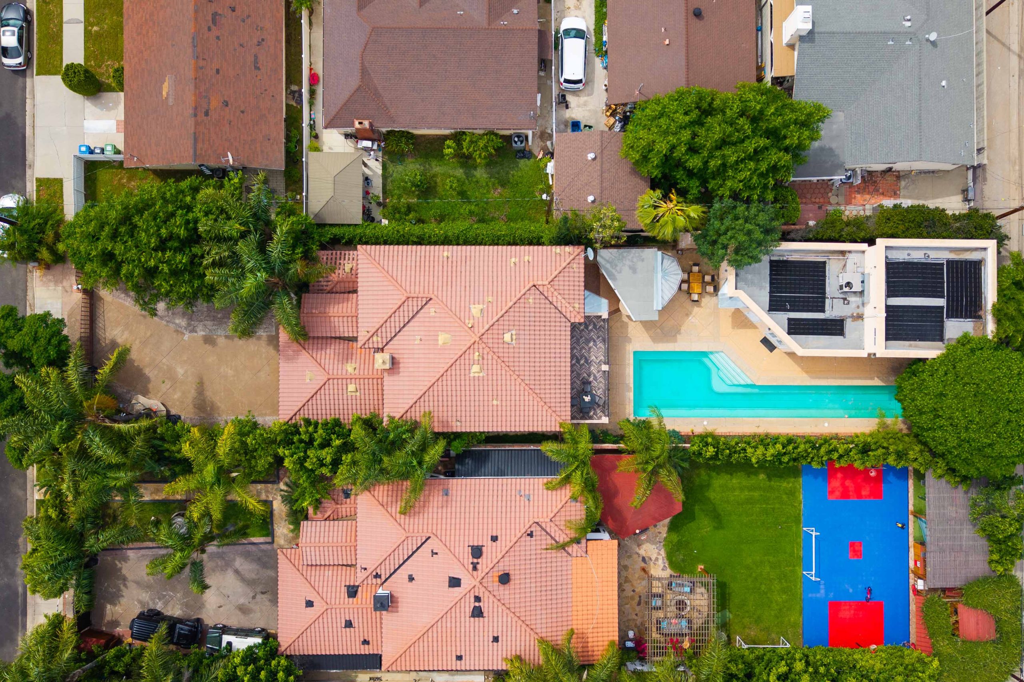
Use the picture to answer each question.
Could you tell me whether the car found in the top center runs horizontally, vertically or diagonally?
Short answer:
vertically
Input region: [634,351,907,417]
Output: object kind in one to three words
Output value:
swimming pool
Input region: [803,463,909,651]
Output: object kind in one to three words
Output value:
sports court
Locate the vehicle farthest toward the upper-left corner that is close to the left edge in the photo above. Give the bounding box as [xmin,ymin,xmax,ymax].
[0,3,36,75]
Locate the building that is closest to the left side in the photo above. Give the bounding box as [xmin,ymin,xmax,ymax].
[124,0,296,171]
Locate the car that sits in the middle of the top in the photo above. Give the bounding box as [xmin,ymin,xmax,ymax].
[557,19,591,92]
